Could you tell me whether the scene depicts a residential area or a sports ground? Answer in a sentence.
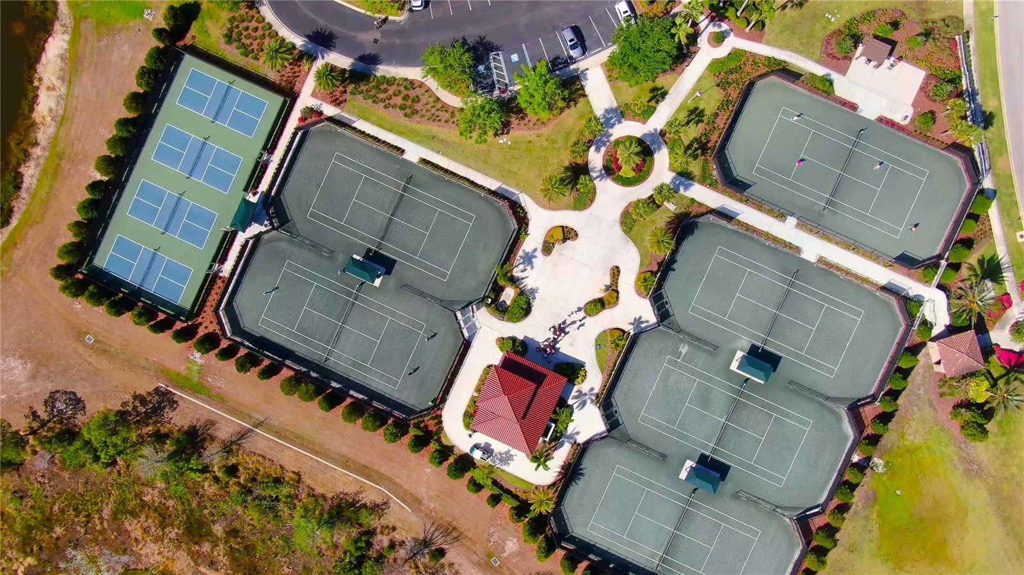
This looks like a sports ground.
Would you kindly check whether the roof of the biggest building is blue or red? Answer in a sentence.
From above, the roof of the biggest building appears red.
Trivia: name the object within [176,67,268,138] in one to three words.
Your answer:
sports court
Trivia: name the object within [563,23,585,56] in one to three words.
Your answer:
car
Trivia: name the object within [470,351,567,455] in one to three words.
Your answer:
building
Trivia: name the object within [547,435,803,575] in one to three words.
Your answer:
tennis court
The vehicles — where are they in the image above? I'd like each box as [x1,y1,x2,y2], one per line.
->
[563,23,585,56]
[615,0,638,23]
[472,448,492,464]
[376,16,382,29]
[410,0,424,11]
